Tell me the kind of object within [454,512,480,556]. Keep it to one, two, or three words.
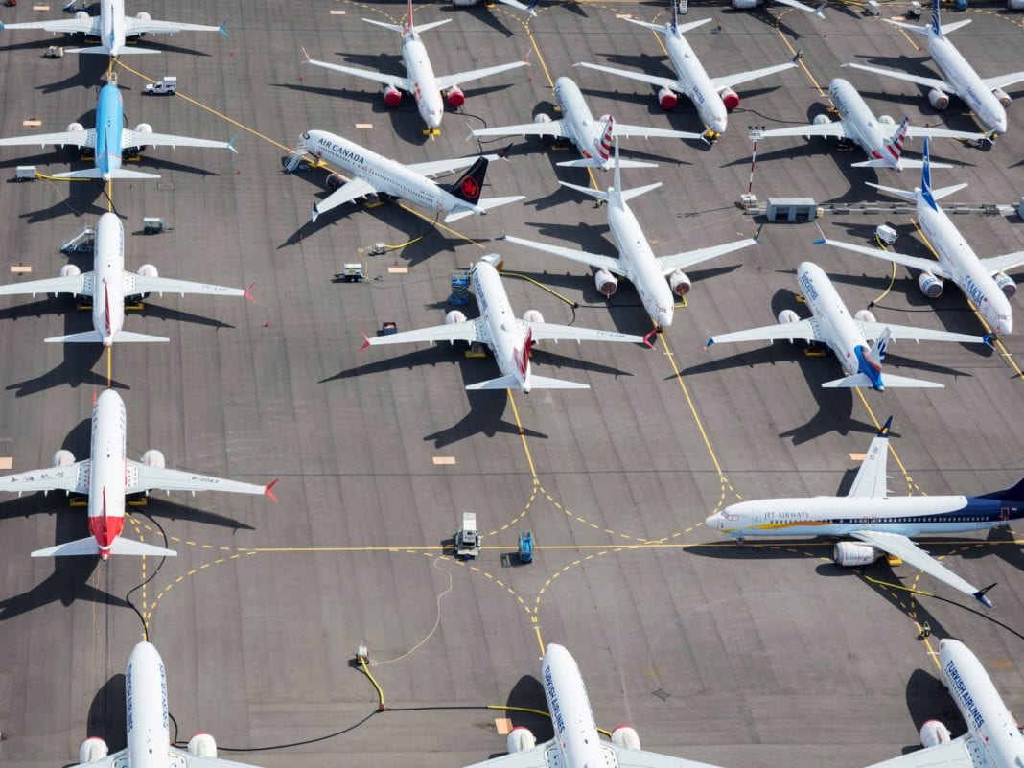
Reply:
truck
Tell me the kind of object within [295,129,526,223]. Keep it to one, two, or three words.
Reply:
airplane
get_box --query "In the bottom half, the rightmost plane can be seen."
[877,640,1024,768]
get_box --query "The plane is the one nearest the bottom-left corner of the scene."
[72,643,253,768]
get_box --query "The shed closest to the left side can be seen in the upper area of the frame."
[764,198,819,223]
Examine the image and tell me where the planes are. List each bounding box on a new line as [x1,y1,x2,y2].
[473,644,721,768]
[0,83,237,182]
[706,416,1024,607]
[467,77,711,171]
[573,0,796,131]
[361,260,657,395]
[72,643,253,768]
[877,640,1024,768]
[295,129,526,223]
[0,0,227,57]
[843,0,1024,130]
[707,261,996,394]
[758,79,995,172]
[816,139,1024,330]
[496,136,762,330]
[0,389,278,562]
[302,0,531,131]
[0,214,255,346]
